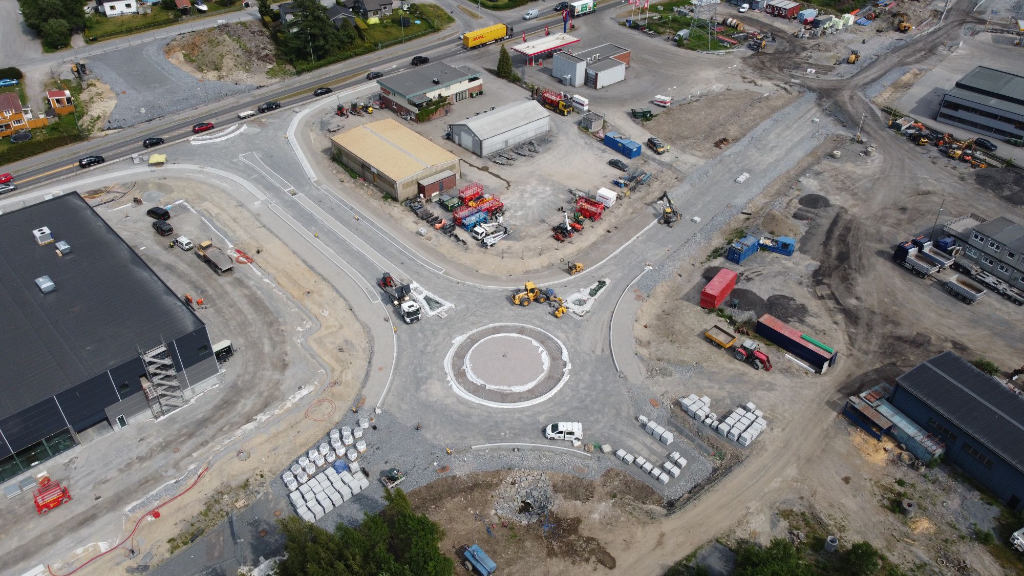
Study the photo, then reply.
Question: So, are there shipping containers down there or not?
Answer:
Yes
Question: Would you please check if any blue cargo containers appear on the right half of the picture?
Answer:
Yes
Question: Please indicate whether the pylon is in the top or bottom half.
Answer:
top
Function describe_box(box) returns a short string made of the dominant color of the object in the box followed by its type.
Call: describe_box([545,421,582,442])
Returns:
white vehicle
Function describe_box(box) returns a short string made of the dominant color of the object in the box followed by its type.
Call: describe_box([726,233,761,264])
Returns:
blue shipping container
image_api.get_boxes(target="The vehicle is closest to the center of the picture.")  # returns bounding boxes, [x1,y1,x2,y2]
[511,284,552,307]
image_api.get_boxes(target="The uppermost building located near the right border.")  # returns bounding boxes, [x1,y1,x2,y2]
[936,68,1024,145]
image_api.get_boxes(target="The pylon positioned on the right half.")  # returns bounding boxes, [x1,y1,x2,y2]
[684,0,717,50]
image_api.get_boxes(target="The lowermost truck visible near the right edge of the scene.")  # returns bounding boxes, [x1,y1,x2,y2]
[997,525,1024,567]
